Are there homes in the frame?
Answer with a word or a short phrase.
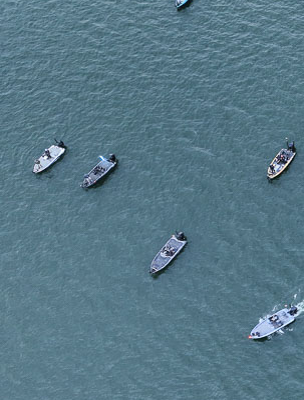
No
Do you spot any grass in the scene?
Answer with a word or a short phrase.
No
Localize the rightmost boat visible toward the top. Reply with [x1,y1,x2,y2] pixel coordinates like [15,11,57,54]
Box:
[267,139,296,180]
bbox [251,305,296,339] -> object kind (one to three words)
boat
